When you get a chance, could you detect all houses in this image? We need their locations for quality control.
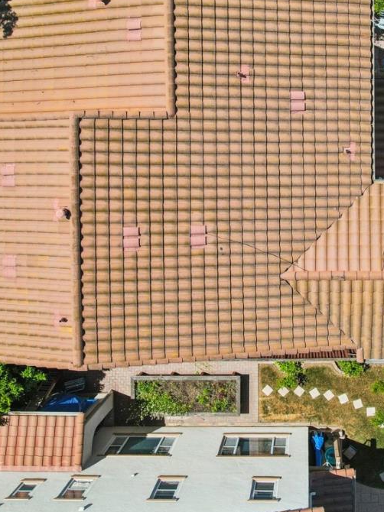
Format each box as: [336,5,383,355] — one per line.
[0,0,384,372]
[0,389,357,512]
